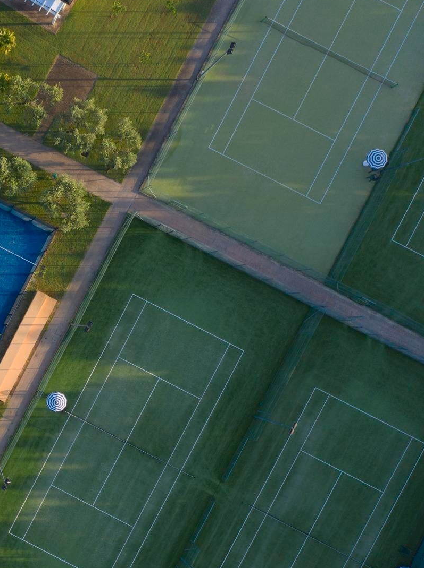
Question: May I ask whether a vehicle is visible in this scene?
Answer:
No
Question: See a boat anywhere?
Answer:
No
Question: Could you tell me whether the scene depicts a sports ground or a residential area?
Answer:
sports ground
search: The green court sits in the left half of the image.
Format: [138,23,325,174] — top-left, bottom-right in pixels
[0,215,307,568]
